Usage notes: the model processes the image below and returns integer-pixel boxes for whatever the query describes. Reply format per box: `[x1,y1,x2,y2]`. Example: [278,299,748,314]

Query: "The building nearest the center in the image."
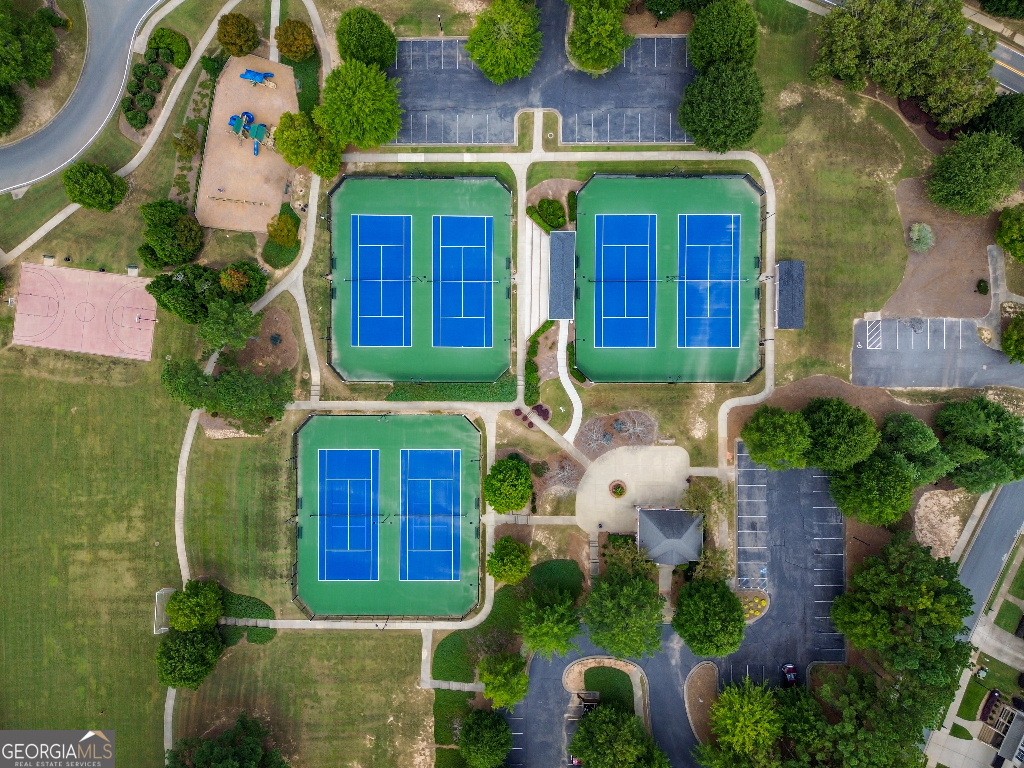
[548,230,576,321]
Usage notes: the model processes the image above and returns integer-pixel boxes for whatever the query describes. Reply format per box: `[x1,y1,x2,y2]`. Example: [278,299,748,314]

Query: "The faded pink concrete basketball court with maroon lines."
[12,262,157,361]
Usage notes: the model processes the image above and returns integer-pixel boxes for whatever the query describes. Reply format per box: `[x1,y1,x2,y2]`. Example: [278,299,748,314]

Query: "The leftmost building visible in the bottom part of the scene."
[635,505,703,567]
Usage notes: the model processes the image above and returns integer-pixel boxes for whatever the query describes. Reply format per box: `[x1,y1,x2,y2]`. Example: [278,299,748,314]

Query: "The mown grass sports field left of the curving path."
[0,367,183,768]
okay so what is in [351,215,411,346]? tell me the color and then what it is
blue tennis court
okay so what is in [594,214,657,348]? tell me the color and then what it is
blue tennis court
